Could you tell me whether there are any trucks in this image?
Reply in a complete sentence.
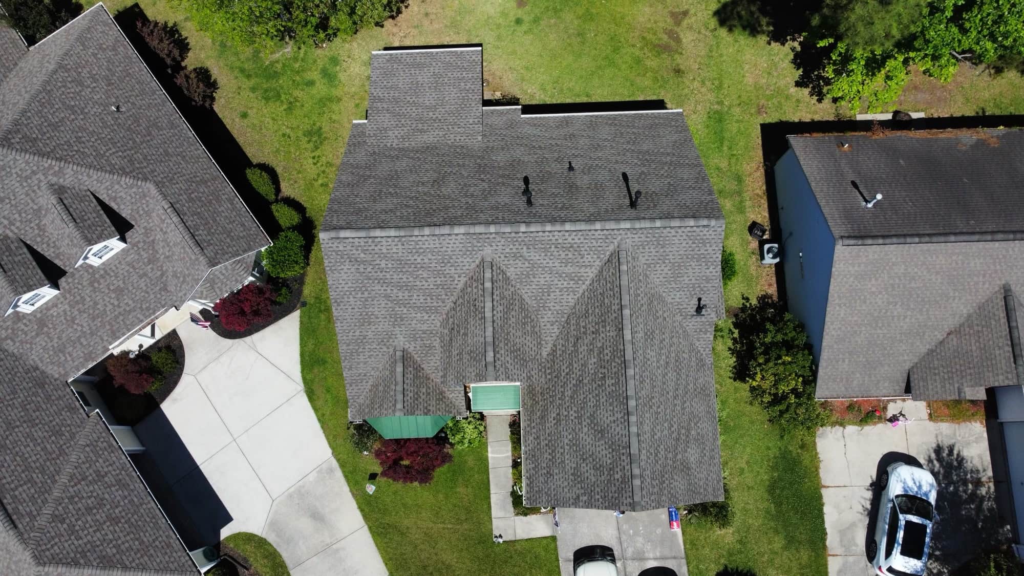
No, there is no truck in the image.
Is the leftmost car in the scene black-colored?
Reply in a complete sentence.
No, the color of the leftmost car is white.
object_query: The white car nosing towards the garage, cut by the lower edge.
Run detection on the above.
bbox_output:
[571,555,623,576]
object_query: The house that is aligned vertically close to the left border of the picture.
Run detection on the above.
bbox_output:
[0,1,274,576]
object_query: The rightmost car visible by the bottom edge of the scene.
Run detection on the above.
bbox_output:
[867,457,945,576]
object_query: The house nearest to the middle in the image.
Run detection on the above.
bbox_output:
[320,46,724,512]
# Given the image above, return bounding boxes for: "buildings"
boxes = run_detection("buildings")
[320,46,724,512]
[776,126,1024,544]
[0,1,274,576]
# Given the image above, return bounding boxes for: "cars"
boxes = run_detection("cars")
[867,457,945,576]
[571,555,623,576]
